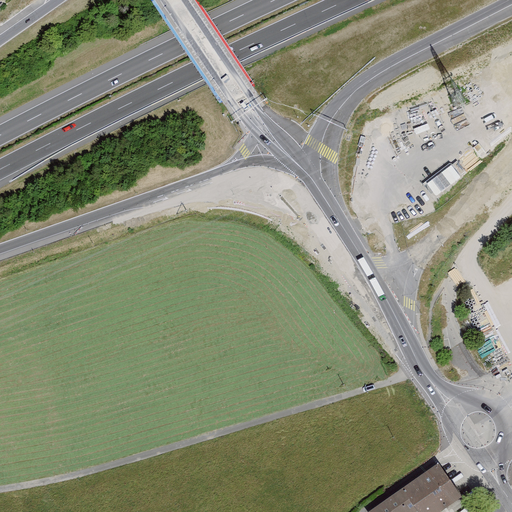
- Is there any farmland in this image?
Yes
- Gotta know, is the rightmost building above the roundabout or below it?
above it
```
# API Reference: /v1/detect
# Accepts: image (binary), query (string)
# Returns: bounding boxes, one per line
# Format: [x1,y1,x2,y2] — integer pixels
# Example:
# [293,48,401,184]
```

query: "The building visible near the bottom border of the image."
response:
[368,462,460,512]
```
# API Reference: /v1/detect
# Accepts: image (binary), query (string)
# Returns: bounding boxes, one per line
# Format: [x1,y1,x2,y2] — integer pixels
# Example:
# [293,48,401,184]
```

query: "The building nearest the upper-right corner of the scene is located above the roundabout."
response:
[424,162,464,198]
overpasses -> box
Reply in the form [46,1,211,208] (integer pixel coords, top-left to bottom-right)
[150,0,256,104]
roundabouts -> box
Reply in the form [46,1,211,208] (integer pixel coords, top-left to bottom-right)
[418,371,512,512]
